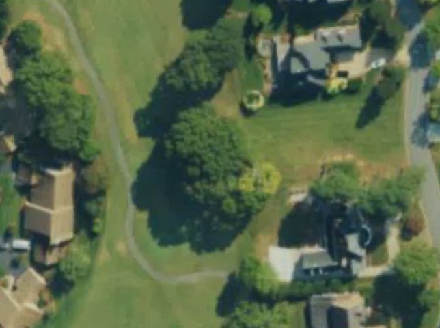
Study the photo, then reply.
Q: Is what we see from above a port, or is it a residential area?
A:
residential area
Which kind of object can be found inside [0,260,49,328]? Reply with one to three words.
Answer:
house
